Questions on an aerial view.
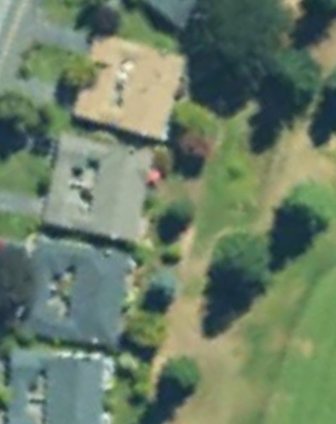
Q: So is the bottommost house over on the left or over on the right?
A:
left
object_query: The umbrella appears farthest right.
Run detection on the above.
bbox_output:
[146,168,160,182]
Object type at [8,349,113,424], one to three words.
house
